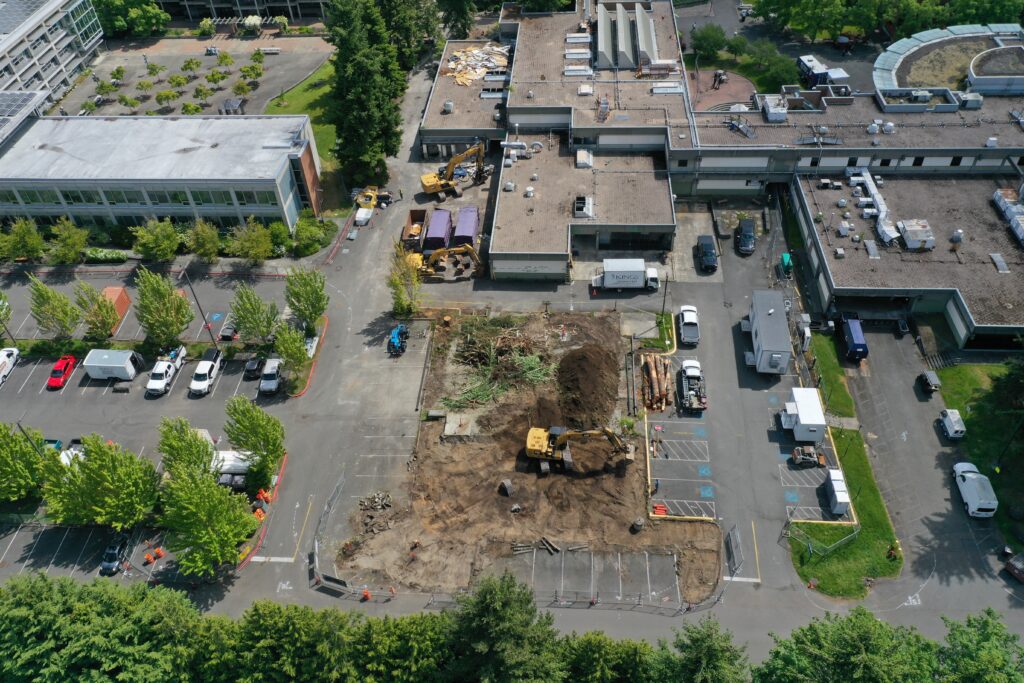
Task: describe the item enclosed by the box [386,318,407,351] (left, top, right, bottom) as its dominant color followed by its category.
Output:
blue work vehicle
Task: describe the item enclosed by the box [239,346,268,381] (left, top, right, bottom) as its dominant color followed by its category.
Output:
black car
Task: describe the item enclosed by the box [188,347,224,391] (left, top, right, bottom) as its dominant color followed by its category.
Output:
white truck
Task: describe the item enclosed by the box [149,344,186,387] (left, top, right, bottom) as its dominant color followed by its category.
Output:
white truck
